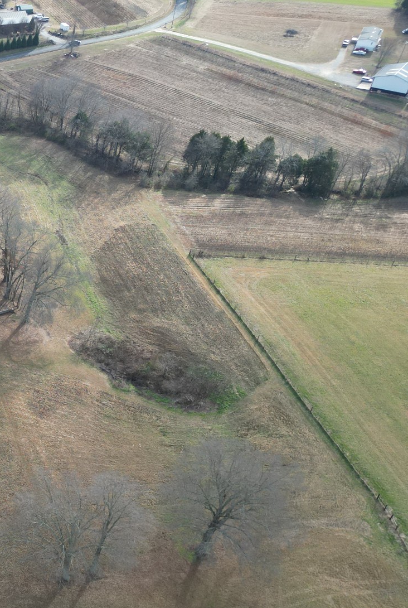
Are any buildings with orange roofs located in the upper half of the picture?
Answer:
No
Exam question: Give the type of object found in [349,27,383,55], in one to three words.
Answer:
house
